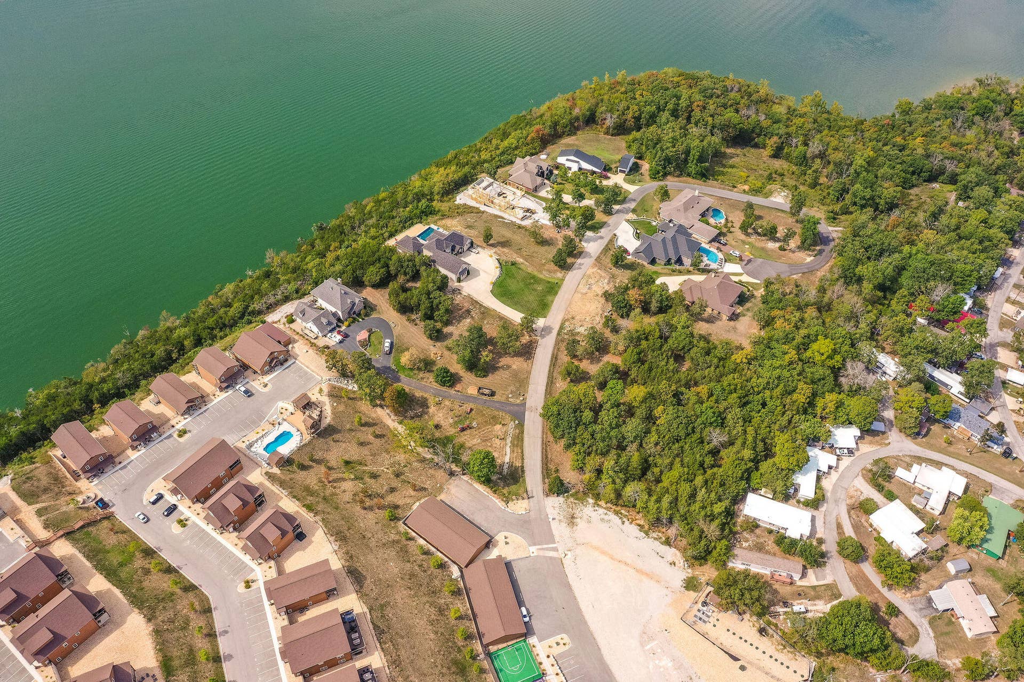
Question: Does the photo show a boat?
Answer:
No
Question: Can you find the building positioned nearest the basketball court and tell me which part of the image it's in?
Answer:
bottom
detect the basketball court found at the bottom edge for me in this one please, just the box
[490,639,542,682]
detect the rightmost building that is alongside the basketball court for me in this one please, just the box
[463,556,526,648]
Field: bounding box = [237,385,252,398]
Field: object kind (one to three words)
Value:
vehicle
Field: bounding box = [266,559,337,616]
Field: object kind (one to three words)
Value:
building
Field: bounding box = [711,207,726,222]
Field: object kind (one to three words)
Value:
swimming pool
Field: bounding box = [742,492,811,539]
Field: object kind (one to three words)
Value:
house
